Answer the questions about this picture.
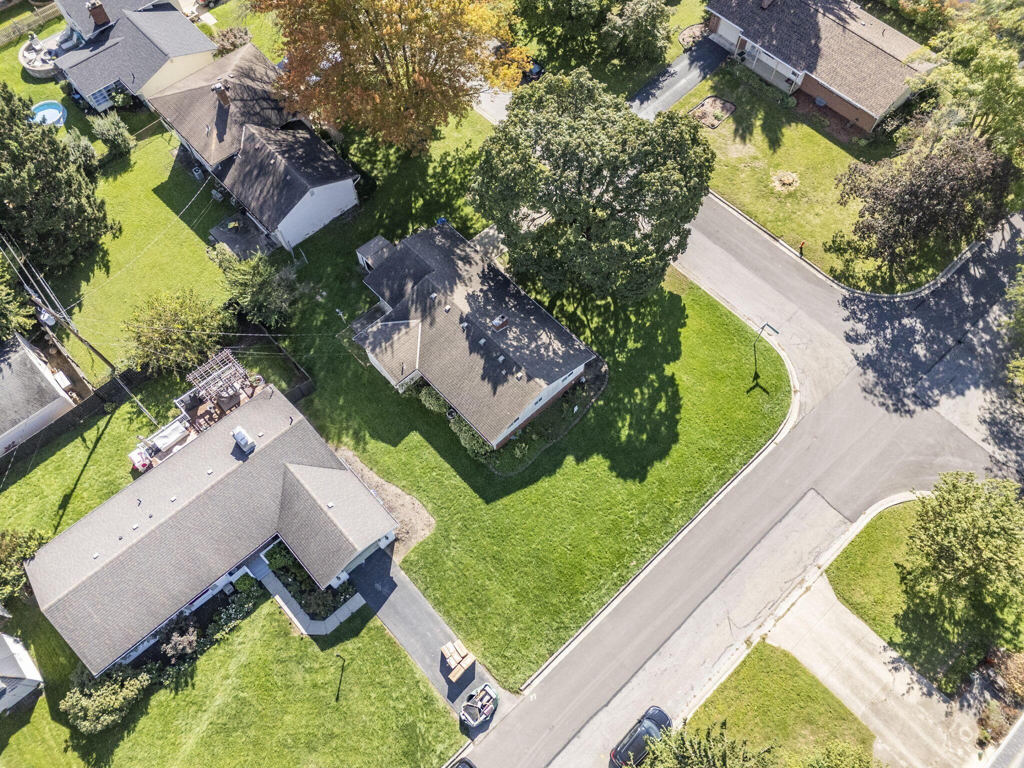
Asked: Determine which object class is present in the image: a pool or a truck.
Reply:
pool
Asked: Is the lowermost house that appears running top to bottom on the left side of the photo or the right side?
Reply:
left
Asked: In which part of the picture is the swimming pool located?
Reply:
top left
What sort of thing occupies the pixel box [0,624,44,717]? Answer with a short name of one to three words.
house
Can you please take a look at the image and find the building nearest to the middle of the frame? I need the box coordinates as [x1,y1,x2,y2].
[352,224,597,452]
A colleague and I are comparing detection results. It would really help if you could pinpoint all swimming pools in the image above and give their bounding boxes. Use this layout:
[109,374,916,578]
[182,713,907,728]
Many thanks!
[29,100,73,132]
